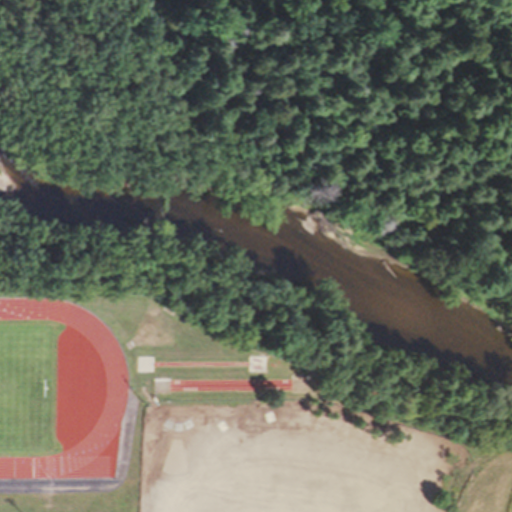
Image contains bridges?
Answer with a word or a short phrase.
No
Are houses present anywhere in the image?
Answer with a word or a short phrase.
No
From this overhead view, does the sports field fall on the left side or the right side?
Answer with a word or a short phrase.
left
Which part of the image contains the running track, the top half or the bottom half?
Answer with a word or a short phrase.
bottom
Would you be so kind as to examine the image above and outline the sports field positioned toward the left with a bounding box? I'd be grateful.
[0,320,66,457]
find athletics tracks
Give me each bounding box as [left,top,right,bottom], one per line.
[0,298,129,480]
